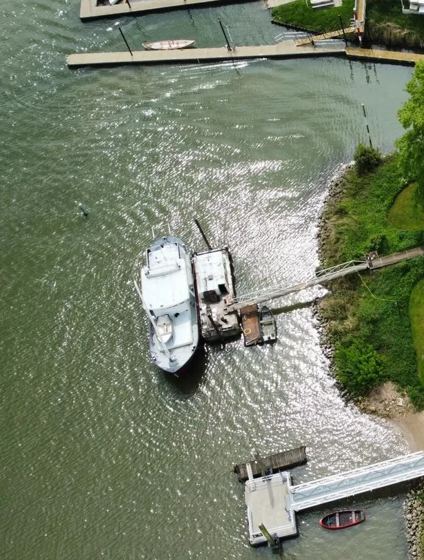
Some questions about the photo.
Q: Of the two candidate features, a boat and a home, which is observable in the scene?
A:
boat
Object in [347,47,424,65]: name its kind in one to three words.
pier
